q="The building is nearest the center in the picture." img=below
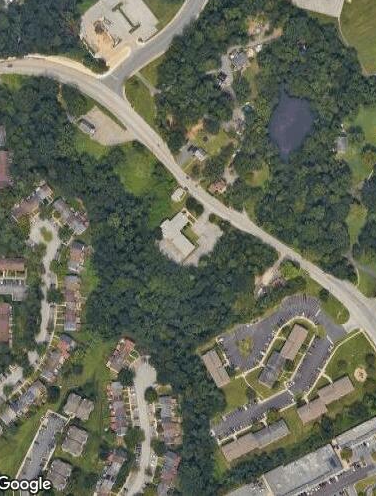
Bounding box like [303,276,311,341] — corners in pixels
[160,212,194,255]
